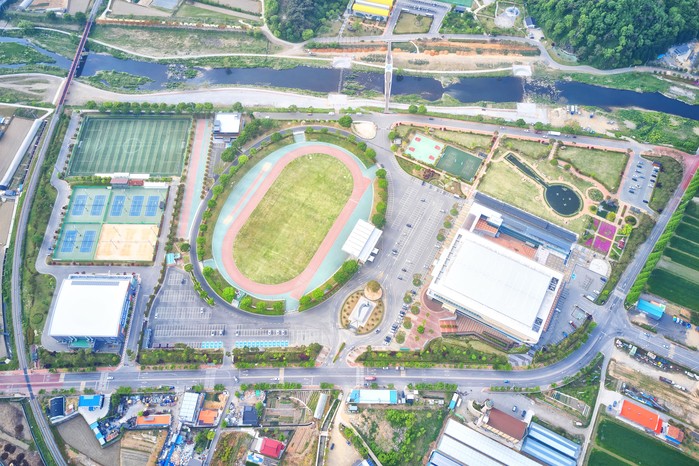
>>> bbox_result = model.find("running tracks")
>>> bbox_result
[202,132,381,318]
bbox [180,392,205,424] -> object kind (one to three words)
building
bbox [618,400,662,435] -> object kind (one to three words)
building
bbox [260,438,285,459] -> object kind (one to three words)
house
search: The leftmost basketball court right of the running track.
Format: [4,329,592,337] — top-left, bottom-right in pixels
[405,134,444,165]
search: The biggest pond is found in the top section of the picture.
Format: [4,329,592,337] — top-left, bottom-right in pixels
[499,147,586,218]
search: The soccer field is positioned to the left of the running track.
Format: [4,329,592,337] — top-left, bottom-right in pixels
[63,115,193,181]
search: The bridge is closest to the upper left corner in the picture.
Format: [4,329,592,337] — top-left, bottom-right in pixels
[56,20,96,104]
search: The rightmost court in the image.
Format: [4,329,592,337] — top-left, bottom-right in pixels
[436,145,483,182]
